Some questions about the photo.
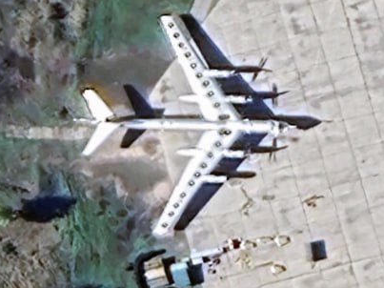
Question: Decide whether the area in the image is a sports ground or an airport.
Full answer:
This image shows an airport.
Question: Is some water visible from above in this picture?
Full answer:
No, there is no water in the image.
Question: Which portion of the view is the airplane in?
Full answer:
Look in the center portion of the view to spot the airplane.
